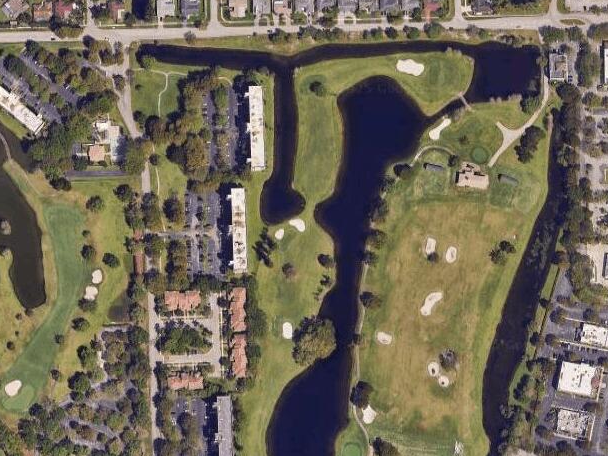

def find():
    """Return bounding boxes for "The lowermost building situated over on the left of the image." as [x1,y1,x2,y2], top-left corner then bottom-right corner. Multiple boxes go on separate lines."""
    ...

[213,395,232,456]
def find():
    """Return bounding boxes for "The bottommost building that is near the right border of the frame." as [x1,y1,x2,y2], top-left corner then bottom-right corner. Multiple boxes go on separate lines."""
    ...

[556,409,594,441]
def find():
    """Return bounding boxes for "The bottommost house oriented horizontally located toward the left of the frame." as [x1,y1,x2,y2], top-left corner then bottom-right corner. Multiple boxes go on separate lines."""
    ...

[168,372,204,391]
